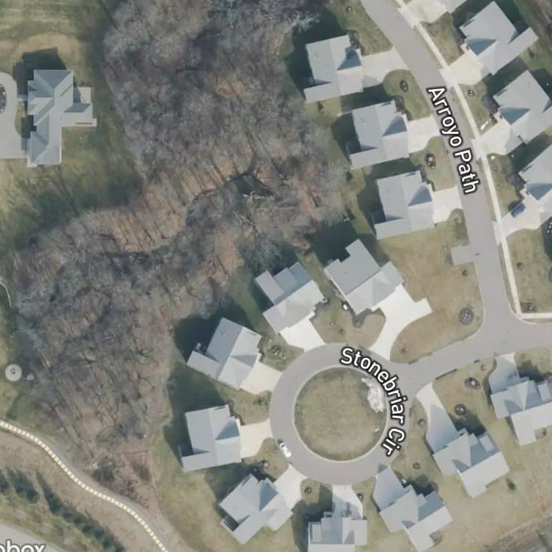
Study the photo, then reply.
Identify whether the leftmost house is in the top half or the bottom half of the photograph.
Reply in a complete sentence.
The top half of the photo is where the leftmost house is.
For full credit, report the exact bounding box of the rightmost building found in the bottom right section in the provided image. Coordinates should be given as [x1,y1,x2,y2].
[488,376,552,445]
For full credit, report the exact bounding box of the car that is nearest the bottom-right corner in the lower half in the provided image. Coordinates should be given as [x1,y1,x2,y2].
[278,442,291,458]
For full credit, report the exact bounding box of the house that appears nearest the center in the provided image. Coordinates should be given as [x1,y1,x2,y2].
[249,262,321,331]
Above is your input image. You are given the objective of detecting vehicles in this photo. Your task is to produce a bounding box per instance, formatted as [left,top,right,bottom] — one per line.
[278,442,291,458]
[510,200,527,216]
